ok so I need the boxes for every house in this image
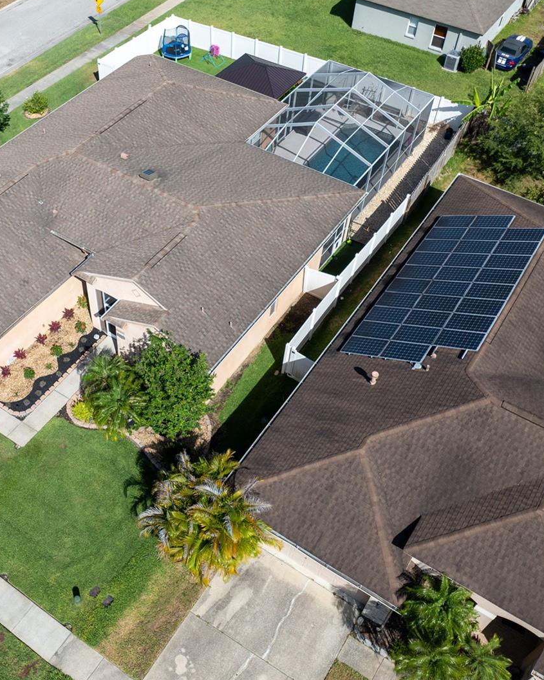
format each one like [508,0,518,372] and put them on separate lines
[211,173,544,680]
[352,0,527,64]
[0,53,369,396]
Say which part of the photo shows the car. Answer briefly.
top right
